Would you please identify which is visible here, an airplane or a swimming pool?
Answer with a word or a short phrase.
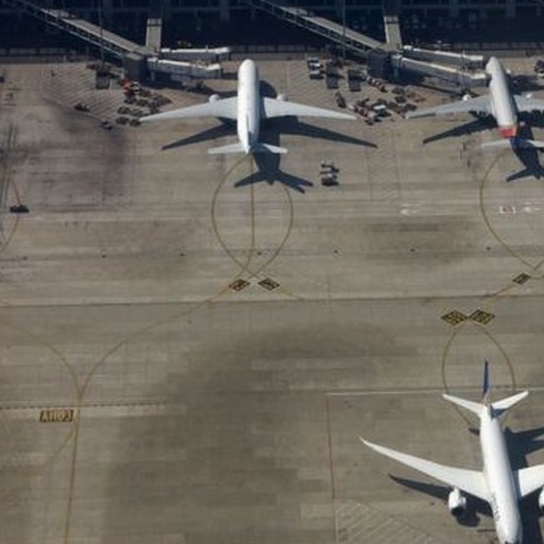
airplane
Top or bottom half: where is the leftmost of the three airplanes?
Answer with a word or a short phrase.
top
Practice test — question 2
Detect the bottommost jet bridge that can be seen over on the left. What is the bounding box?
[143,59,231,95]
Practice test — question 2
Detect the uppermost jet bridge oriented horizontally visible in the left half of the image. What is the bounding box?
[157,42,237,66]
